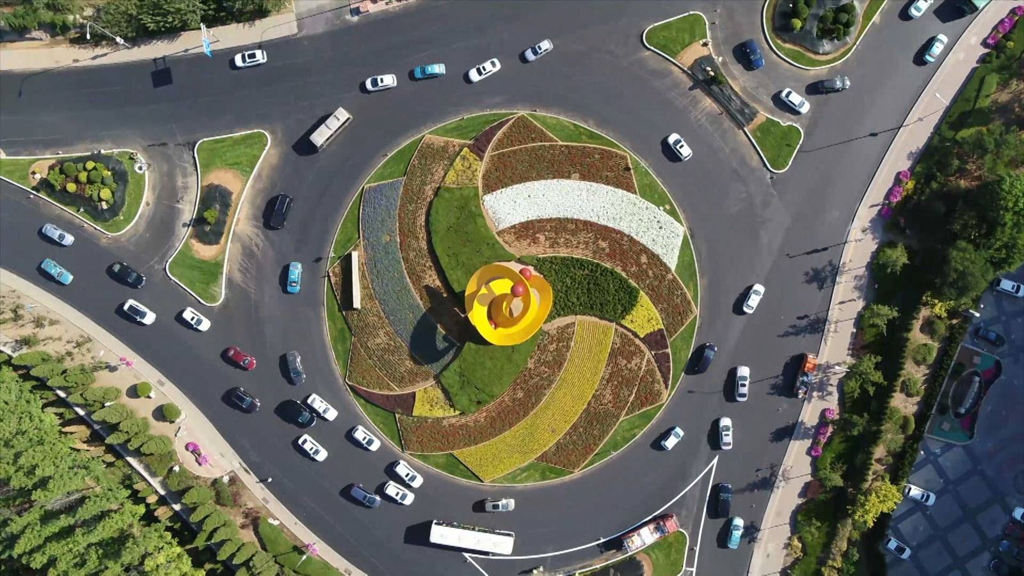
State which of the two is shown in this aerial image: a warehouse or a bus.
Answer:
bus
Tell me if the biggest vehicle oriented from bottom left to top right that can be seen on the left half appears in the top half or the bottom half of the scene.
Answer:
top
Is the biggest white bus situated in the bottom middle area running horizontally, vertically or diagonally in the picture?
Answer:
horizontally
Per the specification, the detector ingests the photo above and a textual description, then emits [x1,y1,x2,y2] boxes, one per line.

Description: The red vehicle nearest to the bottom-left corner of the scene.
[224,346,256,370]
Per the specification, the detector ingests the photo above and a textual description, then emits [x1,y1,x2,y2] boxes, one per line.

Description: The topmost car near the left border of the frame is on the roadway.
[42,223,75,247]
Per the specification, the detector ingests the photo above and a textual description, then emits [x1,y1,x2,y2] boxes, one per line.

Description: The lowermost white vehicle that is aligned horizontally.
[431,520,516,554]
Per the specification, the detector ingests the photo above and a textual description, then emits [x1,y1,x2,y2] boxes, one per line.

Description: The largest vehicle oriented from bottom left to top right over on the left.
[307,108,353,152]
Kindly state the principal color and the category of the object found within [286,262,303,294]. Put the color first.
blue car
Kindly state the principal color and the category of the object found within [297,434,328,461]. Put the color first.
white car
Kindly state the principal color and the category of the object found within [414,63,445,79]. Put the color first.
blue car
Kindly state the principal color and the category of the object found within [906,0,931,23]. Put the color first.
white car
